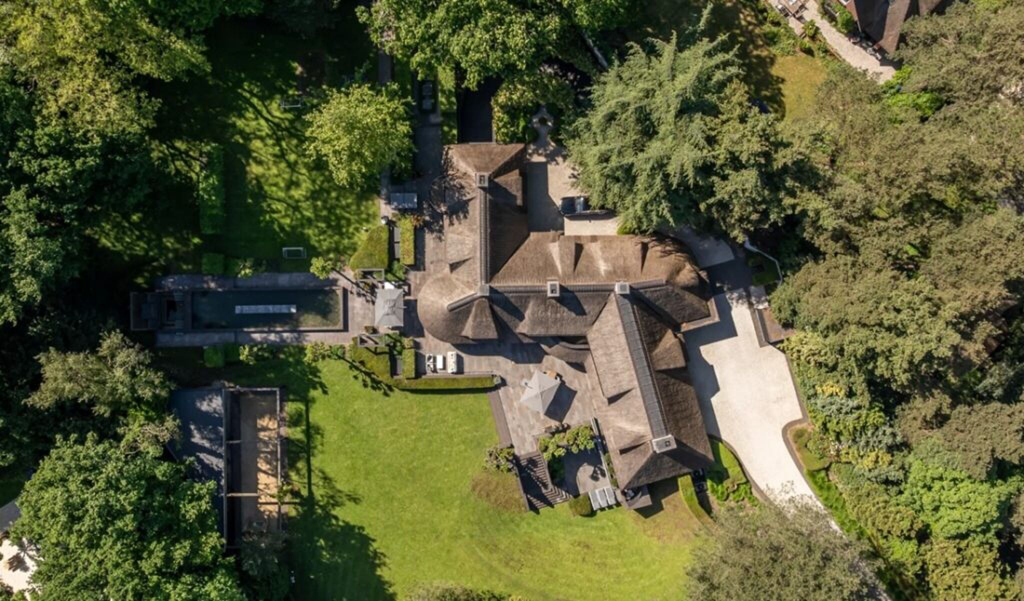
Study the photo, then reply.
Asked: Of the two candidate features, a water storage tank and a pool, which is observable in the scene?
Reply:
pool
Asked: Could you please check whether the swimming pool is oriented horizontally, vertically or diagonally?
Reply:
horizontally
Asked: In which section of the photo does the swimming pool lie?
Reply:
left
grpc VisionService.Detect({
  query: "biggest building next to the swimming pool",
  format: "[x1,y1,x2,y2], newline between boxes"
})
[417,145,720,488]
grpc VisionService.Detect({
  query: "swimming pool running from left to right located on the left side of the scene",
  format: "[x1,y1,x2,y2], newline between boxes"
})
[186,286,348,332]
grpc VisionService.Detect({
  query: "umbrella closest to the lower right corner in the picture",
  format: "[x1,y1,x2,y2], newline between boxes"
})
[521,370,561,414]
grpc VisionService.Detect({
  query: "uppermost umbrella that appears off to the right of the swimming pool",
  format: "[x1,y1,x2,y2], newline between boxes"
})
[375,289,404,326]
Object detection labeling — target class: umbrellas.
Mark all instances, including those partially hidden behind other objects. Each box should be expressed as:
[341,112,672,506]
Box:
[521,370,561,414]
[375,289,404,326]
